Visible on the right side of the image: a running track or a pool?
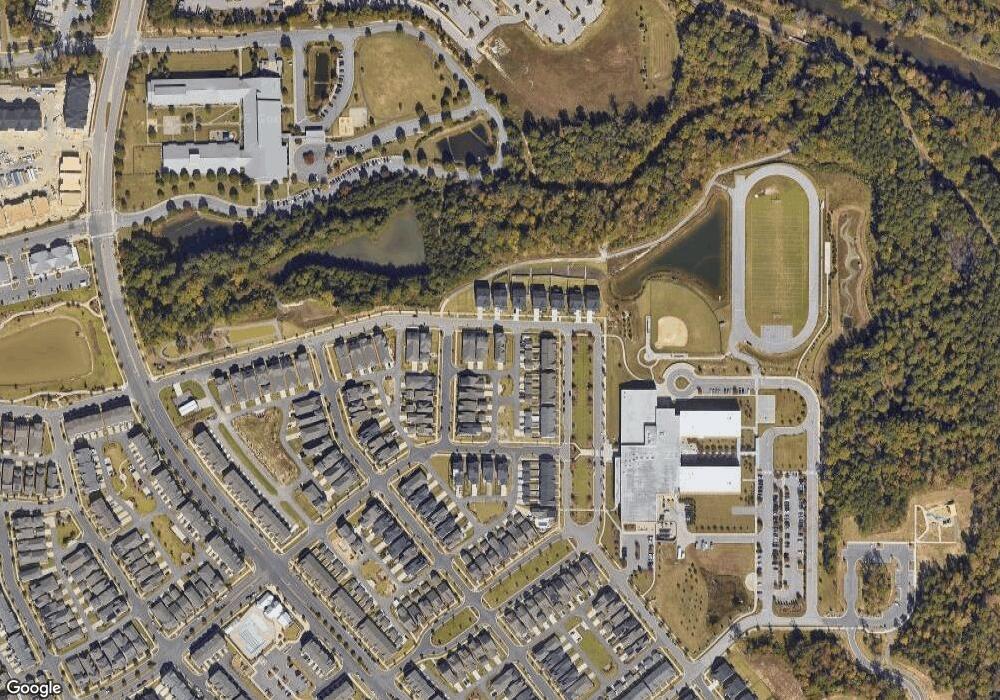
running track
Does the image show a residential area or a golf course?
residential area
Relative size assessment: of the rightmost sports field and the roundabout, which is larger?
the sports field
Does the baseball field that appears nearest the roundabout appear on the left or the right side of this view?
right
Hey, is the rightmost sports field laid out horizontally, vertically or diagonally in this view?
vertically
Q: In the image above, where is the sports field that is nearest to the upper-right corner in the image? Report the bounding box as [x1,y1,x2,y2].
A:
[746,176,809,336]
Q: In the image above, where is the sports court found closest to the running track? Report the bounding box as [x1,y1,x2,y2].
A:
[758,395,775,424]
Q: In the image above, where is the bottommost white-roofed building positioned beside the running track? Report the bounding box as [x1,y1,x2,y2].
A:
[615,390,742,523]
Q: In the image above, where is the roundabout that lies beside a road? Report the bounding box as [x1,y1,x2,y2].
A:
[662,363,700,400]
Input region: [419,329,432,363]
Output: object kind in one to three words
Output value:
house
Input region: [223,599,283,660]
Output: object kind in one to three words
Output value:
swimming pool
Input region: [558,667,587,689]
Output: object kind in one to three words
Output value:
house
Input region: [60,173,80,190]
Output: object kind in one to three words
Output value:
building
